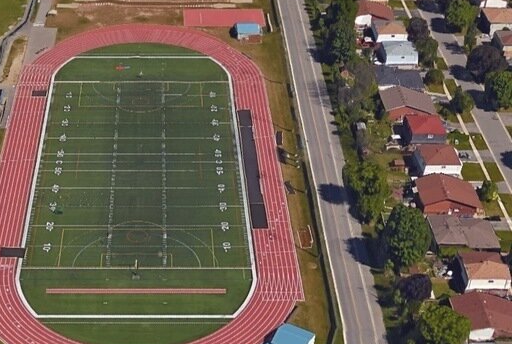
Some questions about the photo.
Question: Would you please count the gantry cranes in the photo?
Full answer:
The photo contains no gantry cranes.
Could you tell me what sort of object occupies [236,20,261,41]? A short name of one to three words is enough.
shed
